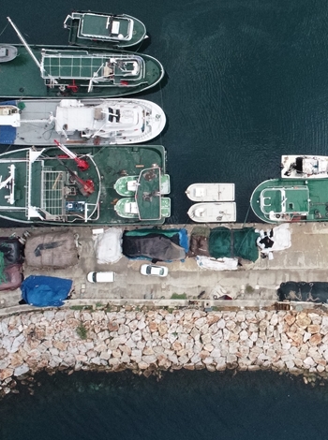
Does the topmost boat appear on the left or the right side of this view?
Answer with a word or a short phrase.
left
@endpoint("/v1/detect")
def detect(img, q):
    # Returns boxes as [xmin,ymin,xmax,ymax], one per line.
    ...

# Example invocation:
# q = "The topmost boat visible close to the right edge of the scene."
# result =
[279,156,328,178]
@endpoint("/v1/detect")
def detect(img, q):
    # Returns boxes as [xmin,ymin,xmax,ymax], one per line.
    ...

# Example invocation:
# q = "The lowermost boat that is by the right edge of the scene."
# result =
[250,179,328,223]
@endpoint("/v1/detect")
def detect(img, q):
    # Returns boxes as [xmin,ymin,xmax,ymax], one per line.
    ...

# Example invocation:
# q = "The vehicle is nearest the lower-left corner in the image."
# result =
[88,270,116,283]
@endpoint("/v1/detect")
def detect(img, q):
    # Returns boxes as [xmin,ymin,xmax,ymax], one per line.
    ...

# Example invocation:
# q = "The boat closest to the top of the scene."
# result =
[65,11,148,46]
